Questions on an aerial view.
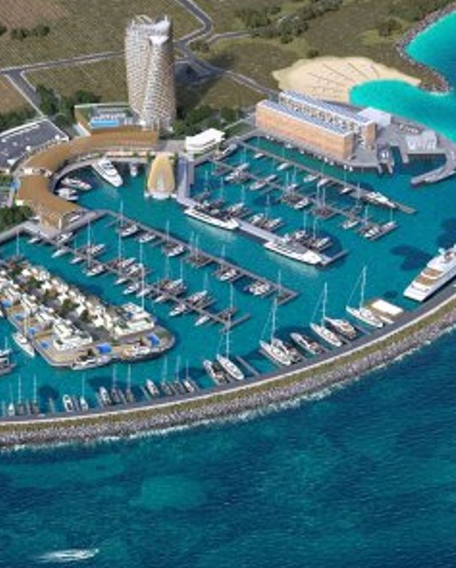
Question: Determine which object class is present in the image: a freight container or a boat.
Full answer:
This aerial view contains a boat.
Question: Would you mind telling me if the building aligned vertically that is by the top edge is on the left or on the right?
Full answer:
The building aligned vertically that is by the top edge sits on the left side.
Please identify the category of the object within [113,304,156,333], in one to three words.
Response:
house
